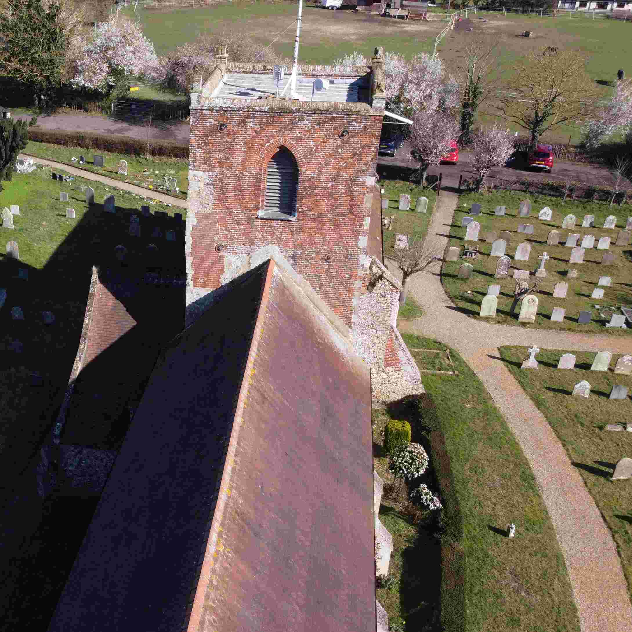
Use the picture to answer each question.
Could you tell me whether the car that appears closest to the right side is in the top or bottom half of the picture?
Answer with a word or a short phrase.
top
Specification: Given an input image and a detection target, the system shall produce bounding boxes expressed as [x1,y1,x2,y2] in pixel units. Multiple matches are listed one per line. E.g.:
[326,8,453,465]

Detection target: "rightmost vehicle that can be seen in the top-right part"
[529,143,561,171]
